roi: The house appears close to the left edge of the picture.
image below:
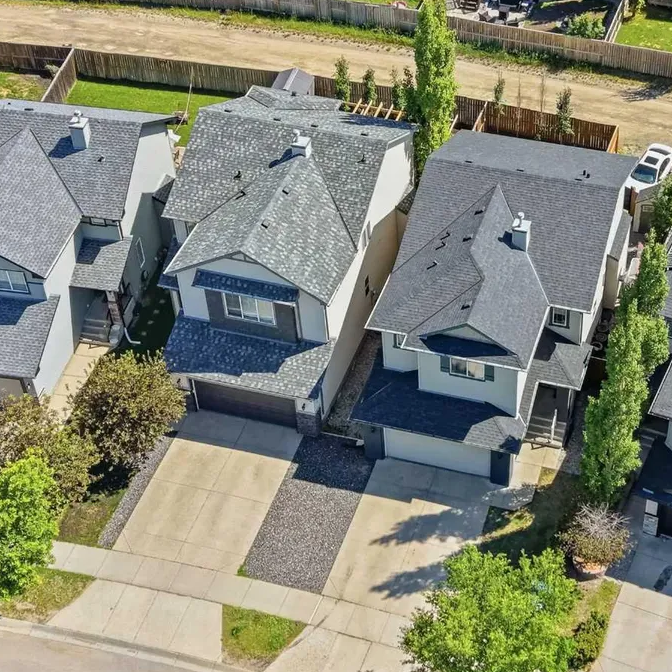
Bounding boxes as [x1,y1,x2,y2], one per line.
[0,99,178,422]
